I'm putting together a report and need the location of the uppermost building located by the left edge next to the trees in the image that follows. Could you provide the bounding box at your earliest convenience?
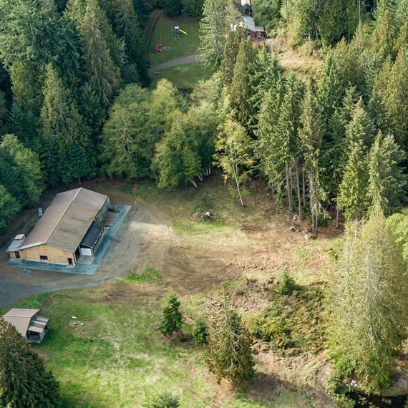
[5,186,110,273]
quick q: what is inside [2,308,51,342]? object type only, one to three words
shed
